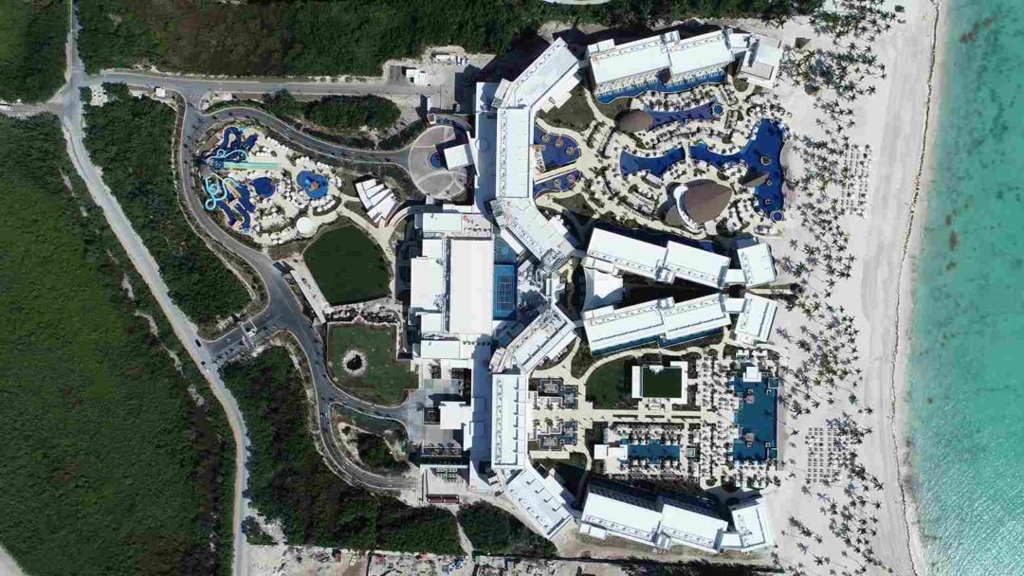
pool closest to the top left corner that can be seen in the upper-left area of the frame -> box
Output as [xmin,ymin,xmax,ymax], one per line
[214,149,250,161]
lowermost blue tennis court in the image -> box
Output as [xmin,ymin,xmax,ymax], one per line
[494,265,518,321]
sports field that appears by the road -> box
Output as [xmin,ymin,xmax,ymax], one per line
[302,226,391,306]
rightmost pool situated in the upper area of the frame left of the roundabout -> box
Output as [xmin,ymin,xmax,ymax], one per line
[295,169,329,198]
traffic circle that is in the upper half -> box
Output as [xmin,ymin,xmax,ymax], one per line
[407,126,478,198]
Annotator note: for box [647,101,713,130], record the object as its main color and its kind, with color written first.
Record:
blue swimming pool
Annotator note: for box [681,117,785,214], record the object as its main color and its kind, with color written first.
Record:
blue swimming pool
